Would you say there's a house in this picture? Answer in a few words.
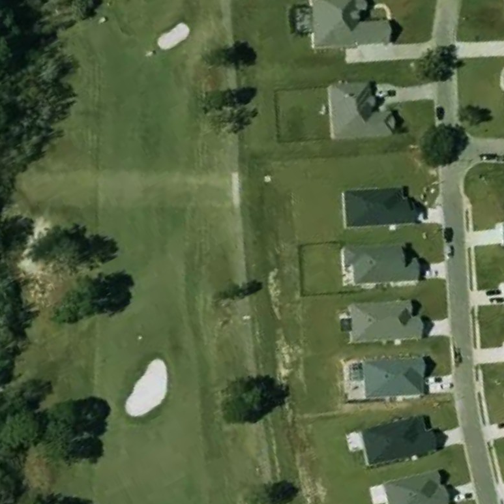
Yes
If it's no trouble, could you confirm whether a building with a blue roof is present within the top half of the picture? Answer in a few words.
No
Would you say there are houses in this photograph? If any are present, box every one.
[344,416,443,466]
[328,81,396,143]
[341,246,423,290]
[343,360,428,404]
[338,301,427,347]
[312,0,394,50]
[369,470,457,504]
[343,189,424,234]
